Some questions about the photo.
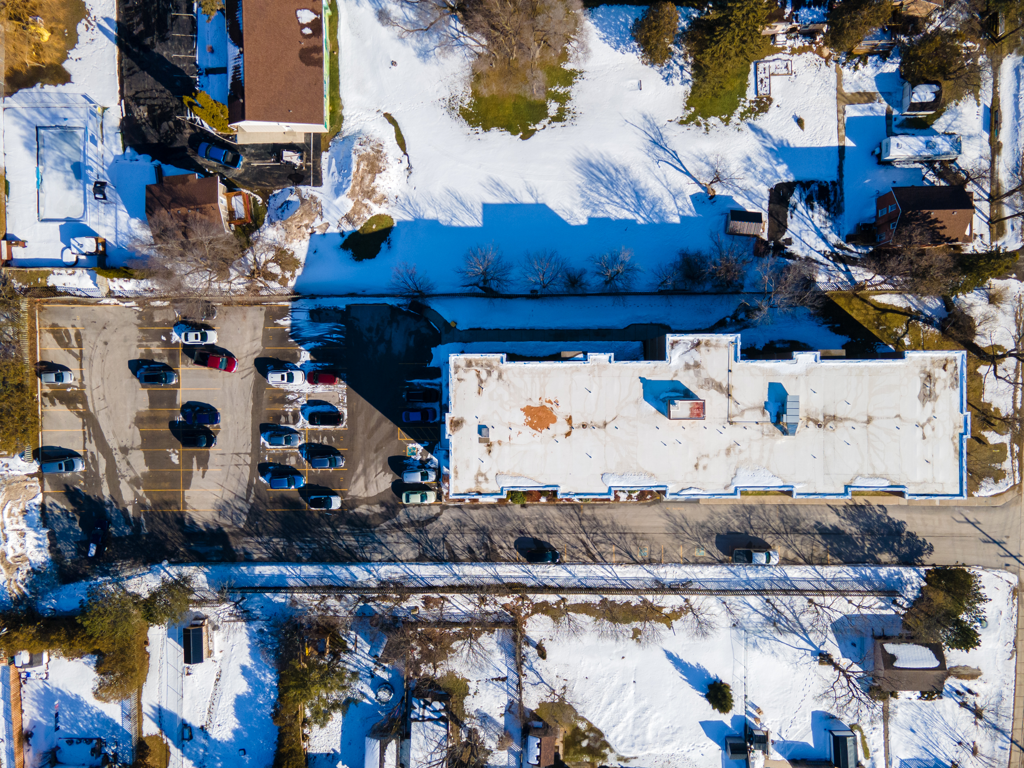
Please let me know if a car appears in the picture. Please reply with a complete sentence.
Yes, you can see a car in this photo.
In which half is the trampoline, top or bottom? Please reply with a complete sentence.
The trampoline sits in the bottom half of the picture.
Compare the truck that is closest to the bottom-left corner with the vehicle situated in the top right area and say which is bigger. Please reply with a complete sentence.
The vehicle covers a greater area than the truck.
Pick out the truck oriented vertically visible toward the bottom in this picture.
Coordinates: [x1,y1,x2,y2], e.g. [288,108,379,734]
[87,518,112,559]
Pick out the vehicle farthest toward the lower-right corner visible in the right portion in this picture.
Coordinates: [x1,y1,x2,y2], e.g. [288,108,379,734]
[733,548,777,566]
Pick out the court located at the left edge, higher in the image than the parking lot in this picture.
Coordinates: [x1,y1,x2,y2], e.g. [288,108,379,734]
[37,126,86,220]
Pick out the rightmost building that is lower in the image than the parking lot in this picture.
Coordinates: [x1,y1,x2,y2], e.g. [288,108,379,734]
[874,639,947,691]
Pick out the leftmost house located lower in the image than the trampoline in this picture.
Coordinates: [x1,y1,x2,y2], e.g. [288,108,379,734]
[365,730,397,768]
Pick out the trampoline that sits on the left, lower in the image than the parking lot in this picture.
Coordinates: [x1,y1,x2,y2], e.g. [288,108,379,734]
[372,684,393,708]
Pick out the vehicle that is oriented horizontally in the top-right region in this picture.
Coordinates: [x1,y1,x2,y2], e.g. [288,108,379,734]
[873,136,962,162]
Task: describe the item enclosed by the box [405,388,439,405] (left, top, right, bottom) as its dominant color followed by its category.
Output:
black car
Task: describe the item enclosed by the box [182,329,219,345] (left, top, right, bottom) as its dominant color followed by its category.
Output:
white car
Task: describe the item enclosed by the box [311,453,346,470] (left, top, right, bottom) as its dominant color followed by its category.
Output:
blue car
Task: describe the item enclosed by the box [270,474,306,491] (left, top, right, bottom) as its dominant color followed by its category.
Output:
blue car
